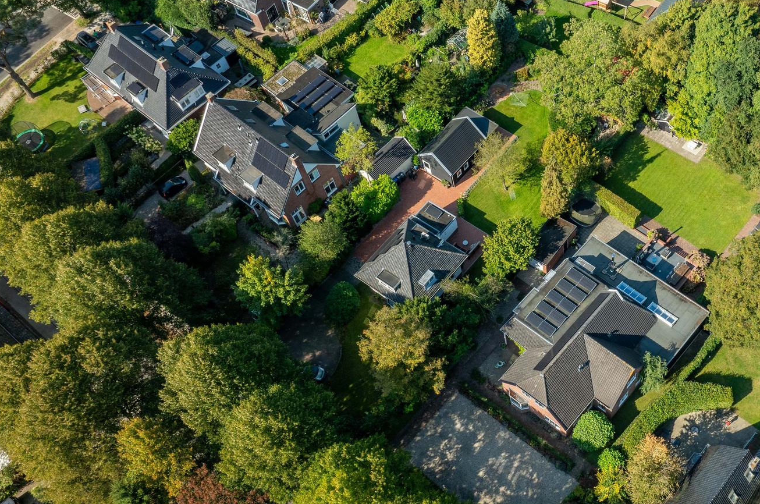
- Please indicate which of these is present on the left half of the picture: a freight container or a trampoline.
trampoline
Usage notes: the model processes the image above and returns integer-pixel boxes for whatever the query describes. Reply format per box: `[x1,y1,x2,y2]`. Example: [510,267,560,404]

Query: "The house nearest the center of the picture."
[354,198,473,311]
